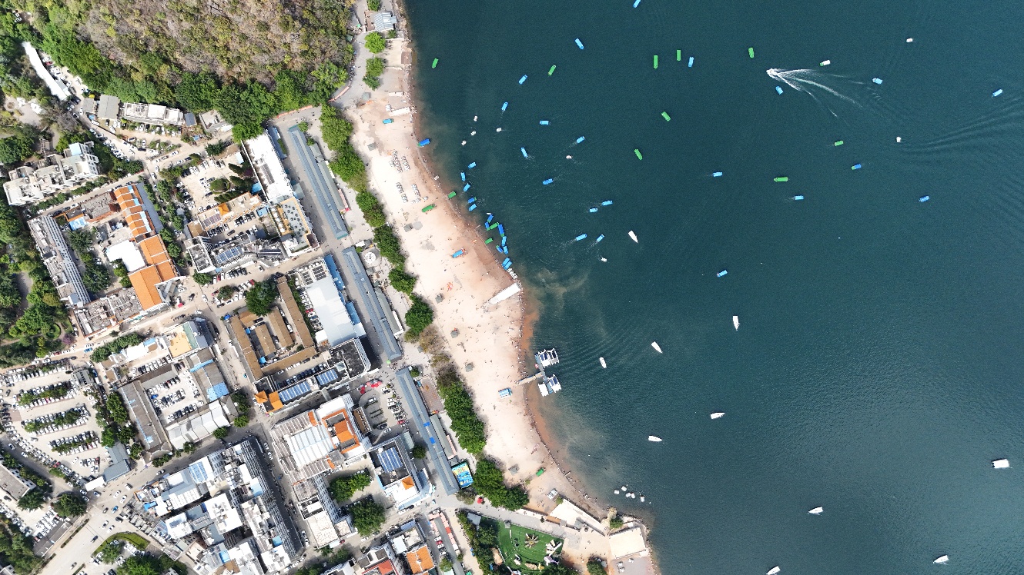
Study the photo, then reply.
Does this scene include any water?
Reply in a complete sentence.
Yes, there is water in the image.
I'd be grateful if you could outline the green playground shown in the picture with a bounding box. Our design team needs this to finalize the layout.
[478,514,564,575]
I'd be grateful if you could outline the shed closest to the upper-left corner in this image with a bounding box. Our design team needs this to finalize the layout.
[23,41,75,100]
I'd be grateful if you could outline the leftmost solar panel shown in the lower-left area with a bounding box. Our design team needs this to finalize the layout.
[190,462,208,483]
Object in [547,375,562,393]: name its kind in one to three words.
boat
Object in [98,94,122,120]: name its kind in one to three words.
house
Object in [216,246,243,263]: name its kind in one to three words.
solar panel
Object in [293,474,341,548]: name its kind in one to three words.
building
